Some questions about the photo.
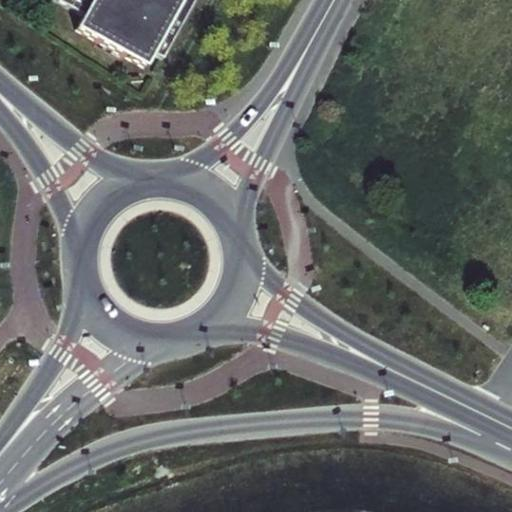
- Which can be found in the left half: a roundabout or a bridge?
roundabout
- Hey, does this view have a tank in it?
No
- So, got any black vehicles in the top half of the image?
No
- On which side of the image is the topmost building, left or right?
left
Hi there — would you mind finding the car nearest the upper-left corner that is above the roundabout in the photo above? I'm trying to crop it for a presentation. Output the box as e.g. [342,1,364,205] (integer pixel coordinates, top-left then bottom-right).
[241,106,258,128]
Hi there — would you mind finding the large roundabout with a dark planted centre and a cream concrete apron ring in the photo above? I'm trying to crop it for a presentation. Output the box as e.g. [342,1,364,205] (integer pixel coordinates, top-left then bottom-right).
[40,132,288,388]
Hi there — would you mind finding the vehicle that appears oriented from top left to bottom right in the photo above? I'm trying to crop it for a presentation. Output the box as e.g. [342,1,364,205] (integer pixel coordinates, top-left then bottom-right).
[100,295,120,318]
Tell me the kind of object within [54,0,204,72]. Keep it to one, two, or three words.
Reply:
building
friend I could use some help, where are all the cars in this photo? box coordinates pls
[241,106,258,128]
[100,295,120,318]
